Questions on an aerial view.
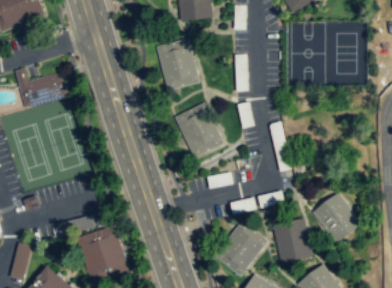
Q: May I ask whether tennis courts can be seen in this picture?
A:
Yes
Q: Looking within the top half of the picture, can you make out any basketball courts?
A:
Yes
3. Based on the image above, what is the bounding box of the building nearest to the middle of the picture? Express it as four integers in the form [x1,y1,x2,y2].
[176,104,226,158]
